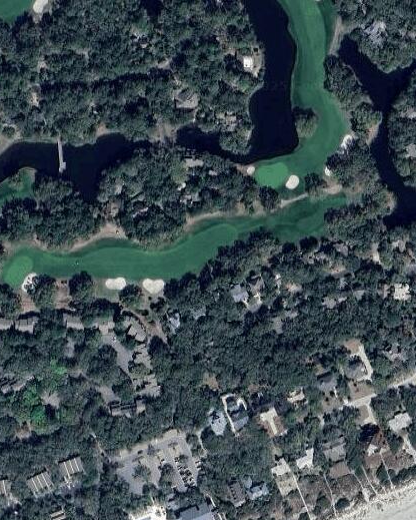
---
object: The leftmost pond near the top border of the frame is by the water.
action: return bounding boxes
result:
[178,0,299,164]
